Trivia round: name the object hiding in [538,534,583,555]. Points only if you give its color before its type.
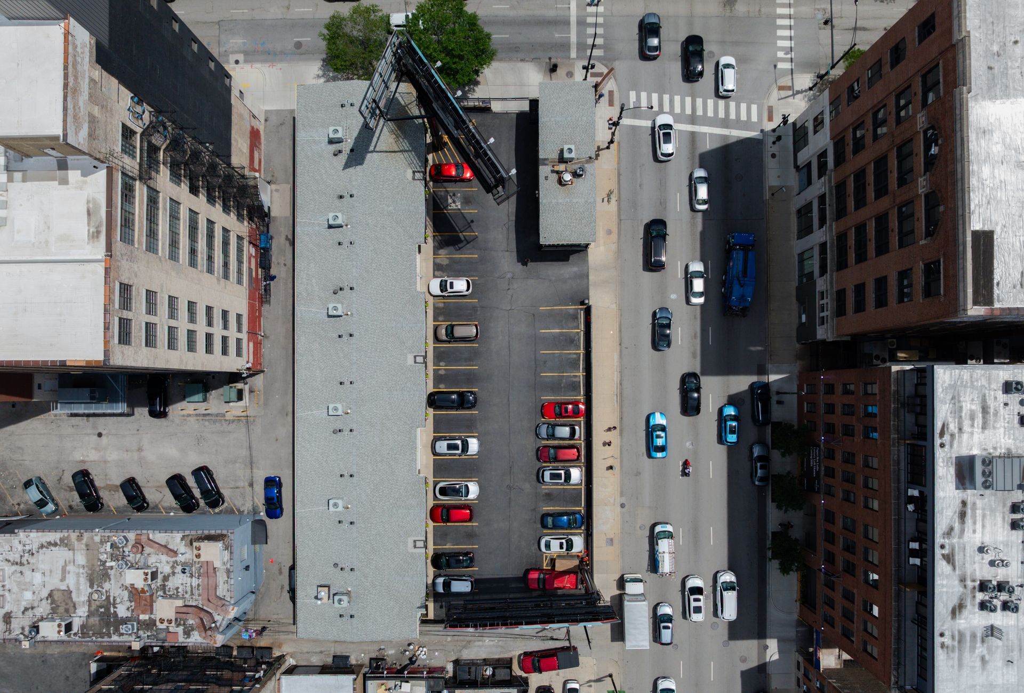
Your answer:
white car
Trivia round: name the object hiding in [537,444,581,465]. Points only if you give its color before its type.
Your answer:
red car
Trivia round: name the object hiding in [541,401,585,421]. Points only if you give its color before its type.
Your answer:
red car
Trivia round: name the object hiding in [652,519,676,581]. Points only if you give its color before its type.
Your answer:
white vehicle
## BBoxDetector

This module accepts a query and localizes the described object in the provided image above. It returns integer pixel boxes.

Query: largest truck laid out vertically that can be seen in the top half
[725,227,759,316]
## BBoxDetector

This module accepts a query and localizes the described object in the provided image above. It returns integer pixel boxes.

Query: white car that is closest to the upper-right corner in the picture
[715,57,737,99]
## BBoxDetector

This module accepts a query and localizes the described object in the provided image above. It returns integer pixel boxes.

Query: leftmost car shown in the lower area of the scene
[24,474,60,514]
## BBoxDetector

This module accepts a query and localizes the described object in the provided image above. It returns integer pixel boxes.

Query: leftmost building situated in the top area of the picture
[0,0,263,401]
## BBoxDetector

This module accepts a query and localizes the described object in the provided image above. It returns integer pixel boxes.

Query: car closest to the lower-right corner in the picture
[715,571,739,620]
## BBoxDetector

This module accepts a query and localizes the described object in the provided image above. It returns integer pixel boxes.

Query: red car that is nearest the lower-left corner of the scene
[430,504,474,525]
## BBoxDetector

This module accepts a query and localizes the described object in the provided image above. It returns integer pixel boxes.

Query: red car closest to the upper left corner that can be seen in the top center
[429,162,473,184]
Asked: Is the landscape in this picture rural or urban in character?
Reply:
urban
